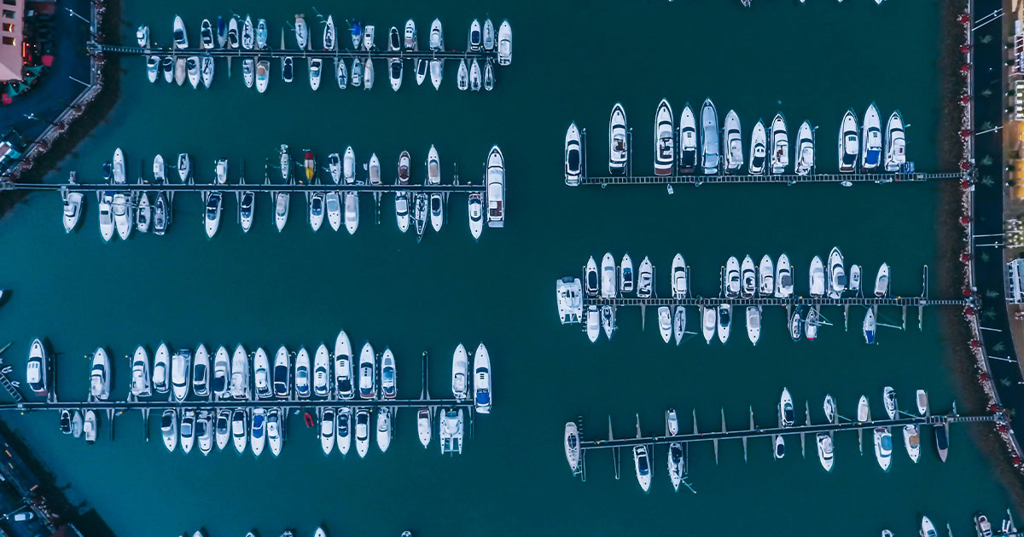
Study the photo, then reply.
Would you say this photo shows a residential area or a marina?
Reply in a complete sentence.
The area seen from above is a marina.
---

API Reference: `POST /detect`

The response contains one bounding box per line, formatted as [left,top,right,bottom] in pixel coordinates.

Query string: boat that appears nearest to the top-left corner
[137,22,151,47]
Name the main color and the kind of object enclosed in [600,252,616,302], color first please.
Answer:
white boat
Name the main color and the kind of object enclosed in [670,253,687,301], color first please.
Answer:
white boat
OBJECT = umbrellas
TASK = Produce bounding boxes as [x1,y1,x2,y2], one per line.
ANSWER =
[43,56,56,65]
[3,94,16,103]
